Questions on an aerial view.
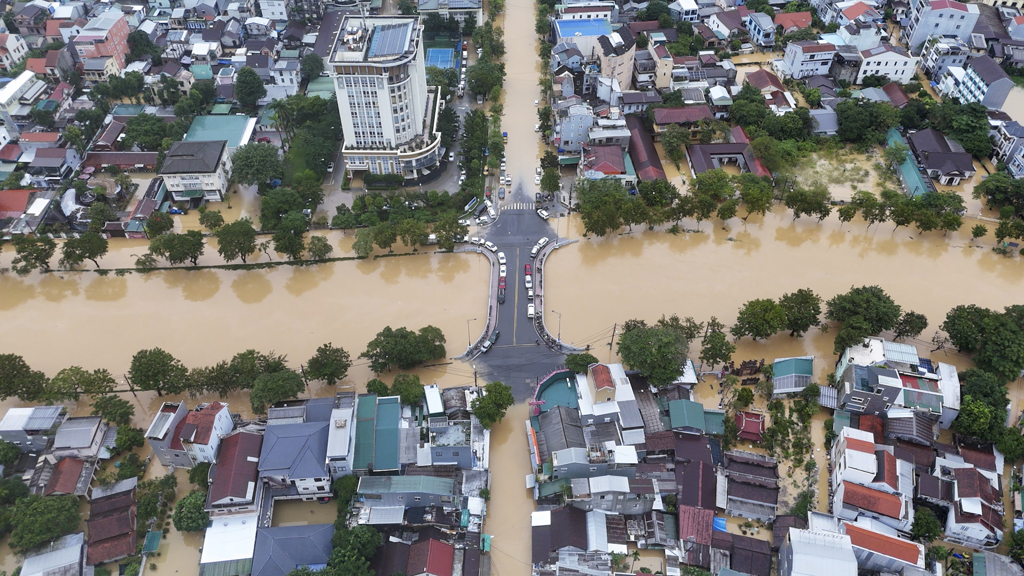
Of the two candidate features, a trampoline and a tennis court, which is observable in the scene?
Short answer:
tennis court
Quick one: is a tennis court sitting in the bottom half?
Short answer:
No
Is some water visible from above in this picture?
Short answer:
Yes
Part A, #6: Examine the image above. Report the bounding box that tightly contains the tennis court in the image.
[429,29,464,79]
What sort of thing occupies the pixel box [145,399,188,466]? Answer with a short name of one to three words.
house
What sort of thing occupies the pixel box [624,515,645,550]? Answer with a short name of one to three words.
shed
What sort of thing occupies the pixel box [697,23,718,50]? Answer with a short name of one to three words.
house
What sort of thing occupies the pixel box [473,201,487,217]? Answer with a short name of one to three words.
vehicle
